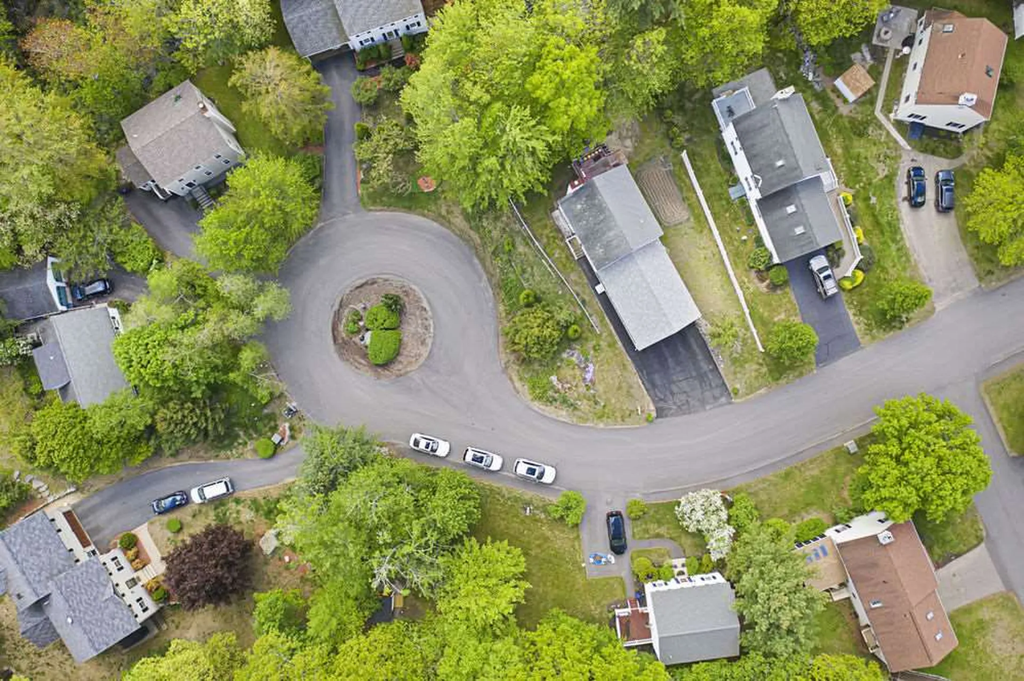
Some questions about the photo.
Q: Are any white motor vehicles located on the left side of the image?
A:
Yes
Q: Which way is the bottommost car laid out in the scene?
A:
from top to bottom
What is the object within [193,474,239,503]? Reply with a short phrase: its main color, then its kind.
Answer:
white car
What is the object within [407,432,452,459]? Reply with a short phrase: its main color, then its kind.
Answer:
white car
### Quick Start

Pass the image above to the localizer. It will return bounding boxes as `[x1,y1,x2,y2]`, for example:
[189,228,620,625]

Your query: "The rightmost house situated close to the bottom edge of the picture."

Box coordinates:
[786,511,961,672]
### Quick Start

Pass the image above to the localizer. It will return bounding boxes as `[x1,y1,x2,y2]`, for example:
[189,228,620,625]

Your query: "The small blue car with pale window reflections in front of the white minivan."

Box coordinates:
[151,491,190,514]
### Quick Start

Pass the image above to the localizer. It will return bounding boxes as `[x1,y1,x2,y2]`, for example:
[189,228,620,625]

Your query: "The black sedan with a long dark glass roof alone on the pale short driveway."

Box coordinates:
[606,509,628,553]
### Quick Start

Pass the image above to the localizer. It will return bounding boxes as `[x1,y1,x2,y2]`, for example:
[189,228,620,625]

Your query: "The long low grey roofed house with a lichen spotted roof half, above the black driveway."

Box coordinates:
[545,148,702,351]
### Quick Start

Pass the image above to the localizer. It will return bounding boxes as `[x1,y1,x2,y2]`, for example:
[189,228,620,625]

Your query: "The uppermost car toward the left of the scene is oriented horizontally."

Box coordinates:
[74,277,120,301]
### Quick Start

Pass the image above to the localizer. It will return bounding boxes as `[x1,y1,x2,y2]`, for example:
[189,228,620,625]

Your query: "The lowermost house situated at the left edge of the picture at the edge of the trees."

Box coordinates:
[0,504,166,664]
